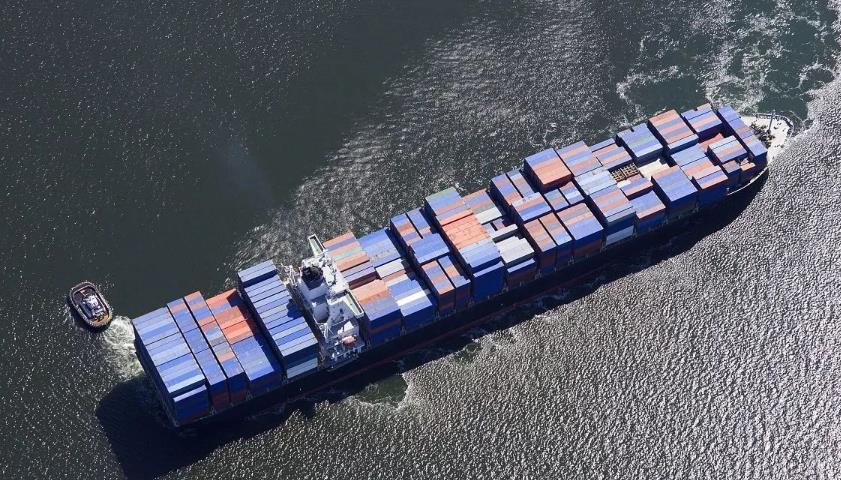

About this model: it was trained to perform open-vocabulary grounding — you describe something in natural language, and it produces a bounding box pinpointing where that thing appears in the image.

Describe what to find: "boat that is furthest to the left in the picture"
[67,284,117,335]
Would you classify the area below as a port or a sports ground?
port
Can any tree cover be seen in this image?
No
